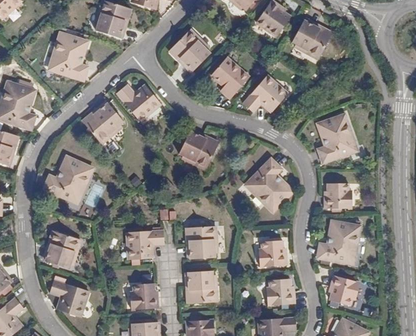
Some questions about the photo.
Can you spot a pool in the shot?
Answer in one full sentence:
Yes, the frame does contain a pool.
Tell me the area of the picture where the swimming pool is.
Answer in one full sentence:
The swimming pool is located in the left region of the scene.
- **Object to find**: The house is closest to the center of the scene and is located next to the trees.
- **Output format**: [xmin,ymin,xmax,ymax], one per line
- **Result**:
[184,134,220,170]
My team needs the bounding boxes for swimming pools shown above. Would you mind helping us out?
[83,181,107,210]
